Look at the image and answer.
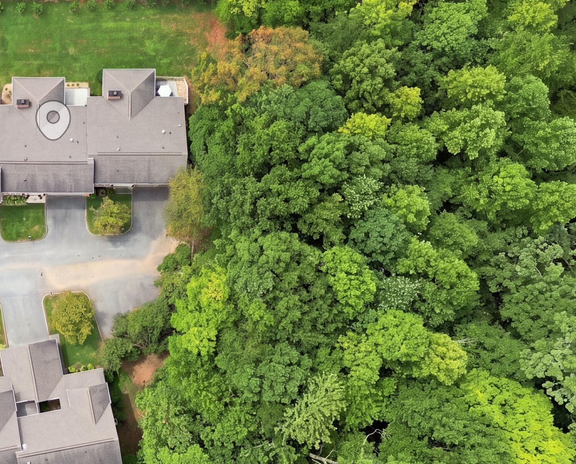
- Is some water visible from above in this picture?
No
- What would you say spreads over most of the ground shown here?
trees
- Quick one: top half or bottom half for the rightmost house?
top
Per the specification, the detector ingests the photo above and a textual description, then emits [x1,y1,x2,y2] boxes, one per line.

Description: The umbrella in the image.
[158,84,172,97]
